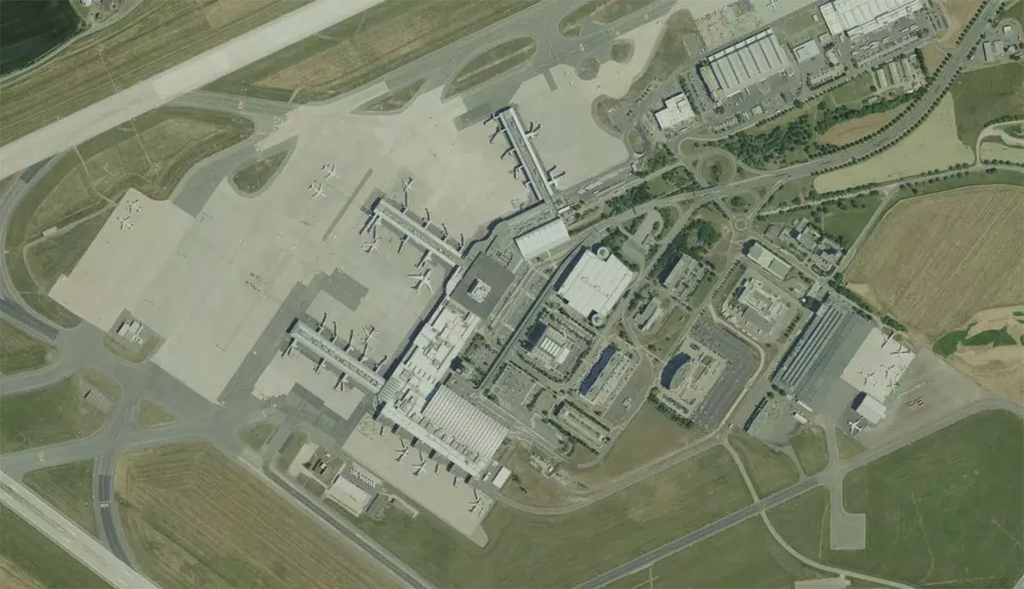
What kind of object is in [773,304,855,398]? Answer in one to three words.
hangar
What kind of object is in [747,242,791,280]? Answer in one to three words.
building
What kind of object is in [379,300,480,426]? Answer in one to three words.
building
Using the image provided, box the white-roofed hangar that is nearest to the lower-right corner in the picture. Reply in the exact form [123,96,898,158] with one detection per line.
[857,394,887,424]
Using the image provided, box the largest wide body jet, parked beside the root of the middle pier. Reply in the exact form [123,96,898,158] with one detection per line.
[412,270,431,291]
